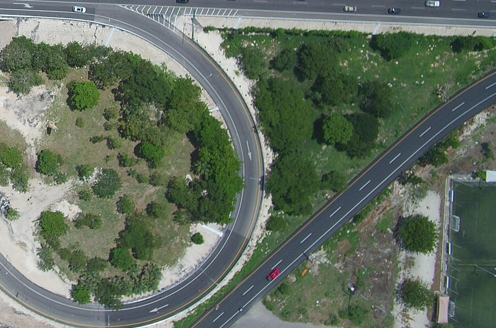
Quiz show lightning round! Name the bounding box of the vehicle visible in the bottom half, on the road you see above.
[266,267,280,281]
